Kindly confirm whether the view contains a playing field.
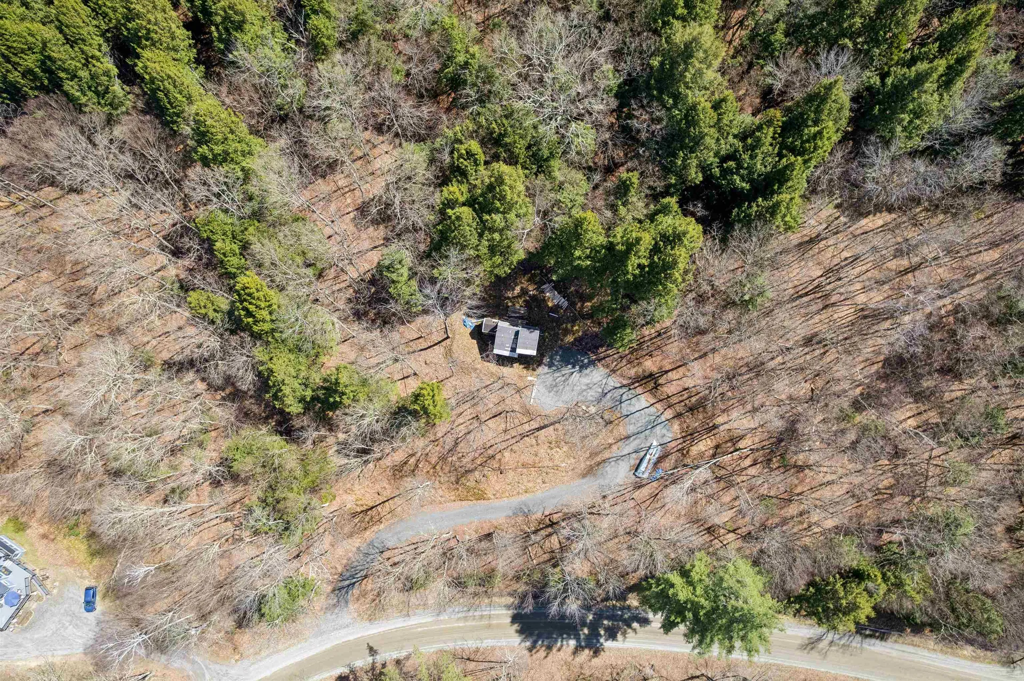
No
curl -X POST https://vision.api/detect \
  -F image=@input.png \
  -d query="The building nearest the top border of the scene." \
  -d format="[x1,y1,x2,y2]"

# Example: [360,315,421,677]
[478,315,540,356]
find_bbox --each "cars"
[81,585,99,613]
